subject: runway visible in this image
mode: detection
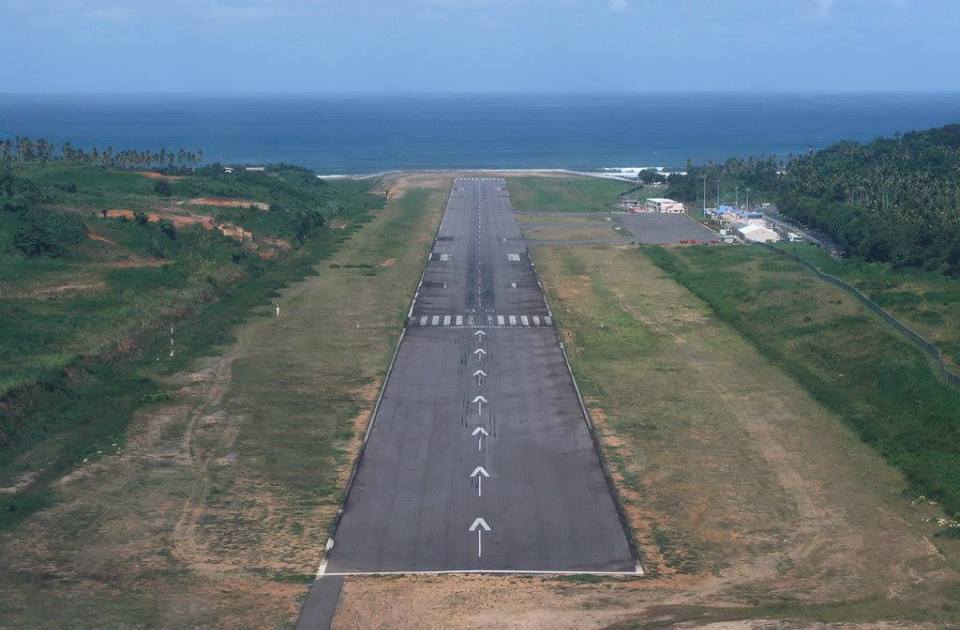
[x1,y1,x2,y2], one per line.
[316,177,643,574]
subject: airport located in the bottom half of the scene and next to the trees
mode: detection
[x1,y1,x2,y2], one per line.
[305,177,722,630]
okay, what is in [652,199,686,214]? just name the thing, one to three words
building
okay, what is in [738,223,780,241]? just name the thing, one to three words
hangar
